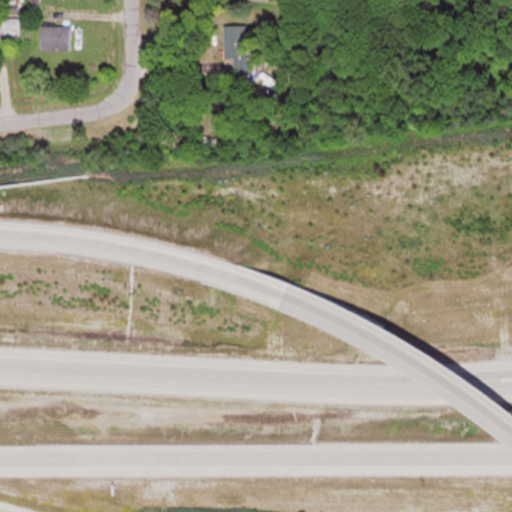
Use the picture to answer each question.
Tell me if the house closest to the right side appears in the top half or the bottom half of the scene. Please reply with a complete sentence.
It is in the top half that the house closest to the right side appears.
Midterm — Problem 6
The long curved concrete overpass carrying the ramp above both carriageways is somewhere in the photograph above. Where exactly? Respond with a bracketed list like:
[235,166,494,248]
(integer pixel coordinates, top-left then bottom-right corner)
[232,266,512,456]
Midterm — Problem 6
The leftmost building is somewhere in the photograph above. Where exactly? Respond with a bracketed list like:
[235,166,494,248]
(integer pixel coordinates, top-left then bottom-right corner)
[1,19,20,38]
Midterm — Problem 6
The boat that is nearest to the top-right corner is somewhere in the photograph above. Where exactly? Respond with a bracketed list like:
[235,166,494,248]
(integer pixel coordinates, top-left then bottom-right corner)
[252,72,278,86]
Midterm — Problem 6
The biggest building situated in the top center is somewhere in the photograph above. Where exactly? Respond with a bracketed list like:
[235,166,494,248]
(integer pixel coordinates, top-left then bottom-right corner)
[224,26,248,71]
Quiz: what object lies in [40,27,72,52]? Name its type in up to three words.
house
